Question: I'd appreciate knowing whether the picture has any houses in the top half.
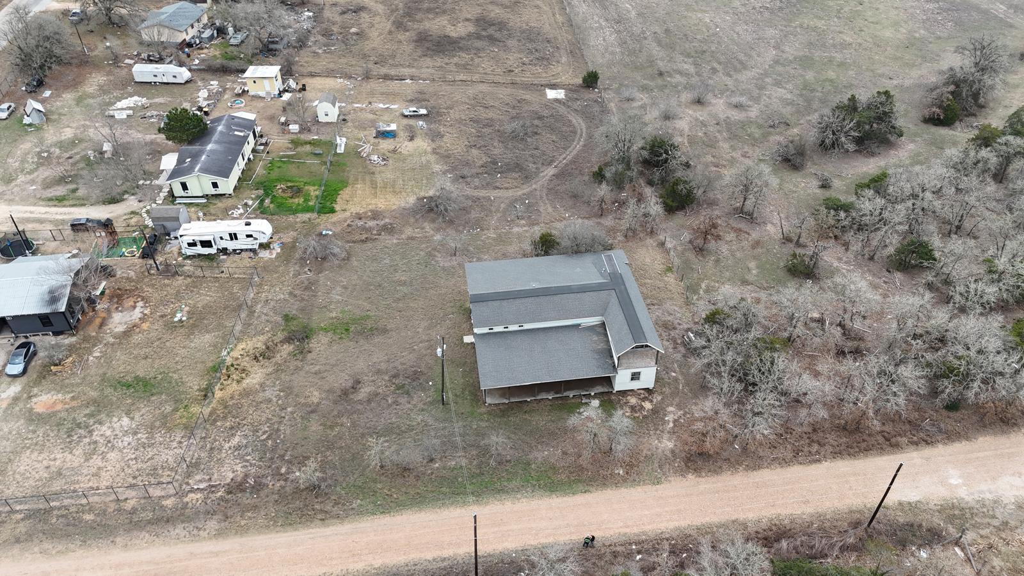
Yes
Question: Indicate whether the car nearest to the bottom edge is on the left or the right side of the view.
left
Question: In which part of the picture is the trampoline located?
left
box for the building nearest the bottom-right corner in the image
[464,251,664,409]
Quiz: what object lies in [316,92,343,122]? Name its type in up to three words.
shed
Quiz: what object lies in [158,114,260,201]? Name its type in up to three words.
house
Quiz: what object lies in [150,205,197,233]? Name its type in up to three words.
shed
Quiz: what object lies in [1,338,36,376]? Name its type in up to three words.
car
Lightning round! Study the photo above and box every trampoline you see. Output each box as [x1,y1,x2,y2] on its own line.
[0,222,38,260]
